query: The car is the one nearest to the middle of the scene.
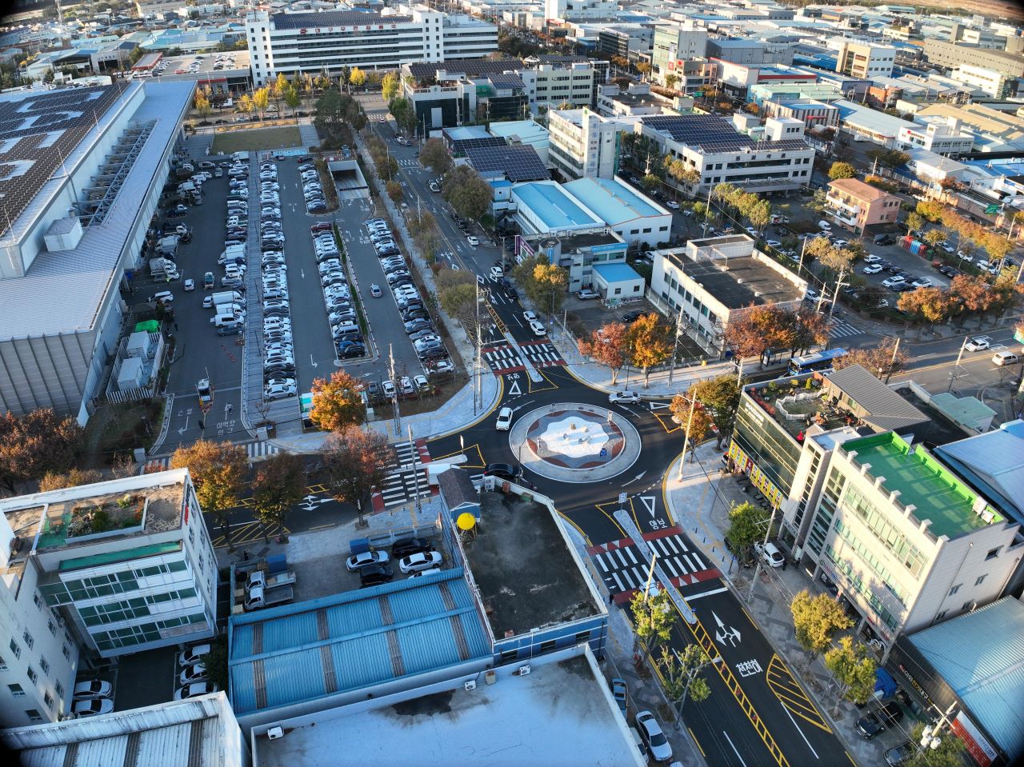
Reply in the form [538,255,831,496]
[496,403,514,427]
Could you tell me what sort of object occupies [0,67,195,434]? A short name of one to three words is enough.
building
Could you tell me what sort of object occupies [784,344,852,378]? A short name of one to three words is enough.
bus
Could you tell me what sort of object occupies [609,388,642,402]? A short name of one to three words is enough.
car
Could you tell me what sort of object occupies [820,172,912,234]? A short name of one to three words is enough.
house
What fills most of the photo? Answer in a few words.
buildings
